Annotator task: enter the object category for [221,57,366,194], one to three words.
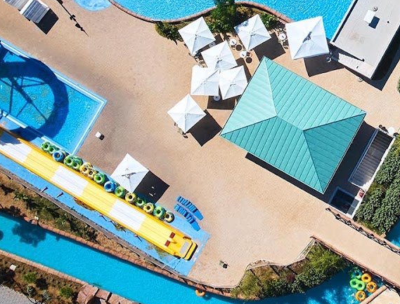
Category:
building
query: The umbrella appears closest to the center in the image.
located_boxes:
[167,94,204,133]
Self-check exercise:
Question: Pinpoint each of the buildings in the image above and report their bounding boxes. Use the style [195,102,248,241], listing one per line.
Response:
[329,0,400,79]
[221,57,366,194]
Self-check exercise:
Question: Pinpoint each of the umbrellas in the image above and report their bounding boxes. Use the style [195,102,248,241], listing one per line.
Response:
[234,13,274,53]
[180,15,218,53]
[104,155,148,199]
[285,14,332,61]
[216,66,247,99]
[190,67,221,97]
[167,94,204,133]
[201,38,238,74]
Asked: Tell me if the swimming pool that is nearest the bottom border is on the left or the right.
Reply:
left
